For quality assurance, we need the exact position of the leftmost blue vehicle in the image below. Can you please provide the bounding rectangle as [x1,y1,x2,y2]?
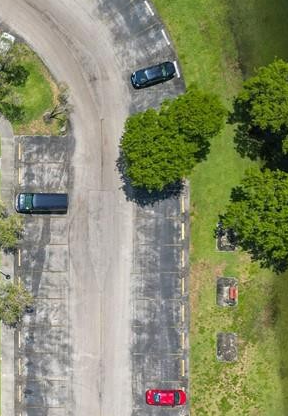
[15,191,70,214]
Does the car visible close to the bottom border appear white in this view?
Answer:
No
